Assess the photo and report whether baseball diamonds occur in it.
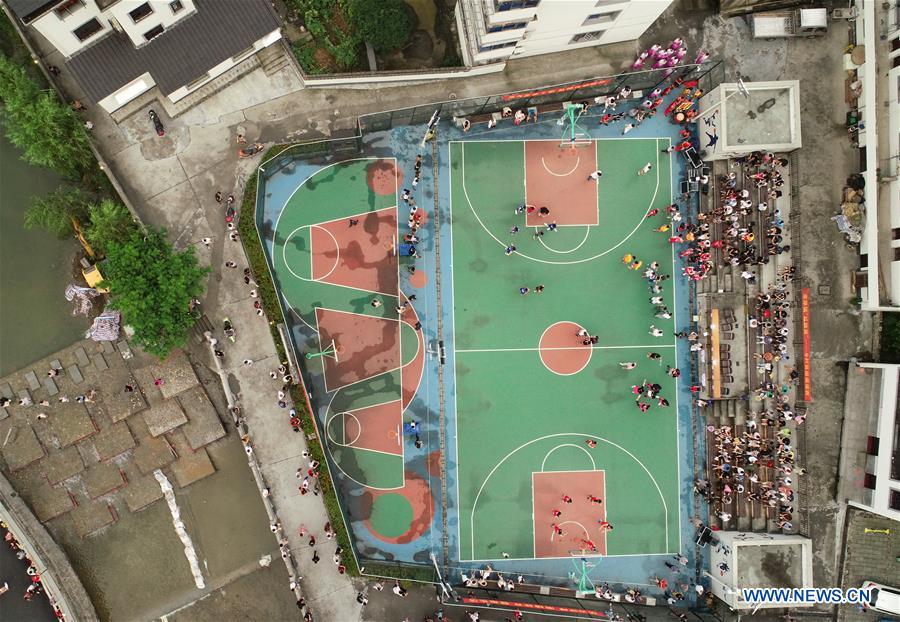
No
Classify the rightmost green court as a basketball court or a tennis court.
basketball court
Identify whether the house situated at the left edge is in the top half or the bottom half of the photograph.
top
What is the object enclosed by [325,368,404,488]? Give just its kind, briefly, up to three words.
basketball court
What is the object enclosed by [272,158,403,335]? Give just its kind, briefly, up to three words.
basketball court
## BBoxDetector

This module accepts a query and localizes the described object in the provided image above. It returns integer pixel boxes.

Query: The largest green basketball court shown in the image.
[450,136,682,561]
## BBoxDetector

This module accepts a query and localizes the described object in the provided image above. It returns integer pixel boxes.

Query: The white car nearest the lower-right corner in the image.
[856,577,900,614]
